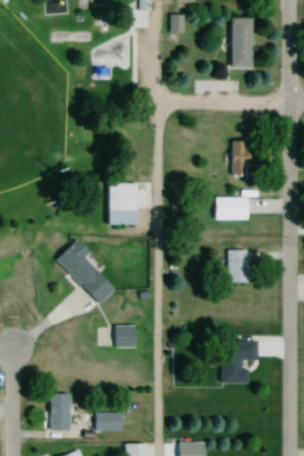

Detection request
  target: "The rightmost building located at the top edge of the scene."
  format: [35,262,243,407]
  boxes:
[232,18,254,67]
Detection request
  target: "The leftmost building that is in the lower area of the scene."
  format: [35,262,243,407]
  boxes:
[43,392,71,429]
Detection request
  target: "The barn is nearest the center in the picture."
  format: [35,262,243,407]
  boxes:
[110,182,138,224]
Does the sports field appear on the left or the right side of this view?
left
